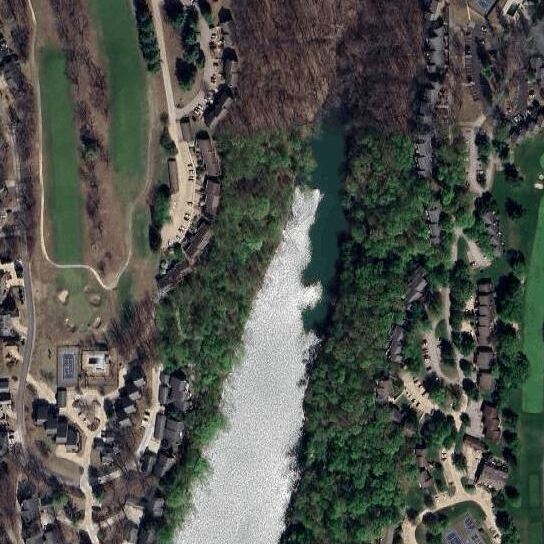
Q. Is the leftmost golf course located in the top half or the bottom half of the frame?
top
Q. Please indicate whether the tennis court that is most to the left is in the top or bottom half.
bottom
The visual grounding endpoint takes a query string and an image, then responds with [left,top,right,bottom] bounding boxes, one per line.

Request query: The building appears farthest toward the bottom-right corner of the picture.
[476,459,513,489]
